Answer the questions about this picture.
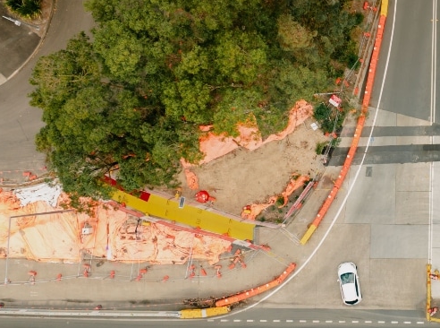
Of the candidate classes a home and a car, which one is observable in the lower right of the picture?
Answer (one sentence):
The one visible in the lower right of the picture is a car.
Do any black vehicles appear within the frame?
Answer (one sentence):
No, no black vehicle is visible in the view.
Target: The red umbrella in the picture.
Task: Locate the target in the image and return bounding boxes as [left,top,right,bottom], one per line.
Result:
[197,189,210,203]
